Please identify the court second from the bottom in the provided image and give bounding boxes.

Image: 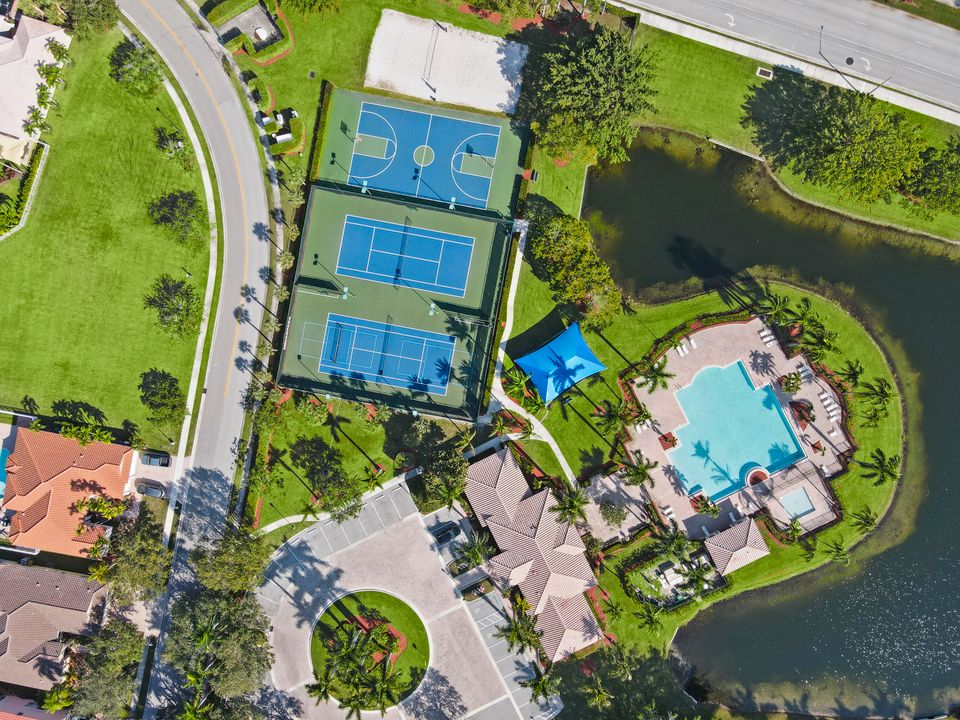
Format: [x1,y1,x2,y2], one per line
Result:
[299,190,512,322]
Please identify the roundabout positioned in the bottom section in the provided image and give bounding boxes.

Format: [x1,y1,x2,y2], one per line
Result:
[308,589,431,712]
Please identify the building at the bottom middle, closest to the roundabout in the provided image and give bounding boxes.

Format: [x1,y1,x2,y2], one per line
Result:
[458,446,605,663]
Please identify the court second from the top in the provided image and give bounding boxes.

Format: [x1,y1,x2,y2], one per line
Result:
[313,88,527,220]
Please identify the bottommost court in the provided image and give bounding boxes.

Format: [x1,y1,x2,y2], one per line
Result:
[283,288,494,419]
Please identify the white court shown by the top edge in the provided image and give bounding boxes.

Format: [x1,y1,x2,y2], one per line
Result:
[365,9,529,113]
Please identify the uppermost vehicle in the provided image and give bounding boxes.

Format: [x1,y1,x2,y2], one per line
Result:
[139,454,171,467]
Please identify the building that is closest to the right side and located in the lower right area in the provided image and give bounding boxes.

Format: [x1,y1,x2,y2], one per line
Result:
[700,516,771,578]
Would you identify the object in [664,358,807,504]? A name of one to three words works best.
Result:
swimming pool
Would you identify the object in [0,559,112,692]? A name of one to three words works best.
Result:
house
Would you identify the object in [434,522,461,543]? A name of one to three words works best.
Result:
car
